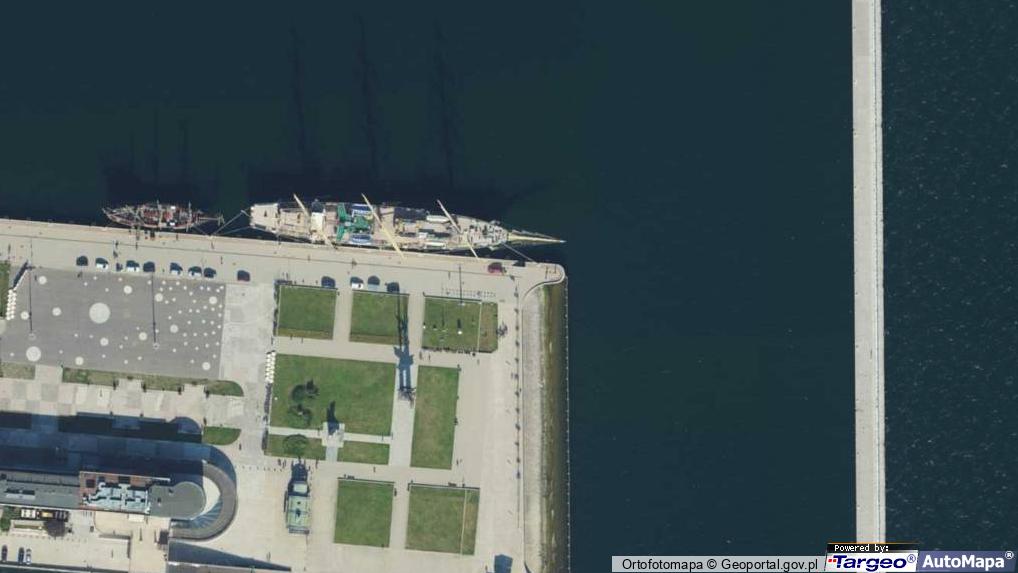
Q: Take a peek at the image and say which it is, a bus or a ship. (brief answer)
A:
ship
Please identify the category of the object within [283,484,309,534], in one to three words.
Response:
building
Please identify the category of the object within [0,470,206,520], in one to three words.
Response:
building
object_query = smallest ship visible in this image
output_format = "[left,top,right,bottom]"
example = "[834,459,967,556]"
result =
[101,200,224,234]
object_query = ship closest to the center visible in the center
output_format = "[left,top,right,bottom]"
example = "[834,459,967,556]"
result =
[249,193,566,265]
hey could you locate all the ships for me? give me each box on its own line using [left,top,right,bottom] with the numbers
[249,193,566,265]
[101,200,224,234]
